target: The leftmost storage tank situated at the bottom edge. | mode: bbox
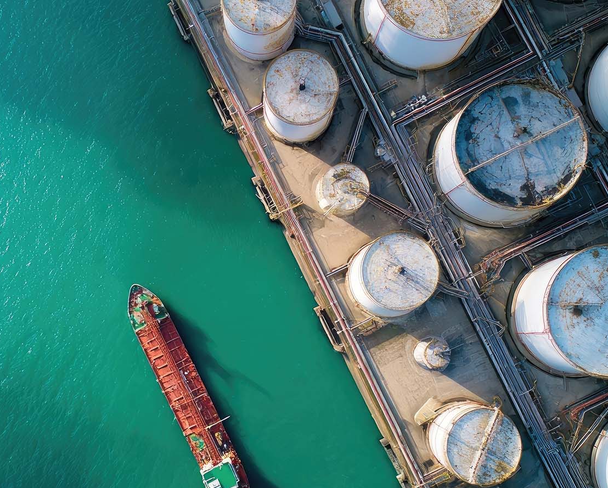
[417,387,523,487]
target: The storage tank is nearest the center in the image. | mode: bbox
[300,162,370,235]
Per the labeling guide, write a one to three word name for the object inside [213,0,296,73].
storage tank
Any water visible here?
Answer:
Yes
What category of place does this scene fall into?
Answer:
industrial area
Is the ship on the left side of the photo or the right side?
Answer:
left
